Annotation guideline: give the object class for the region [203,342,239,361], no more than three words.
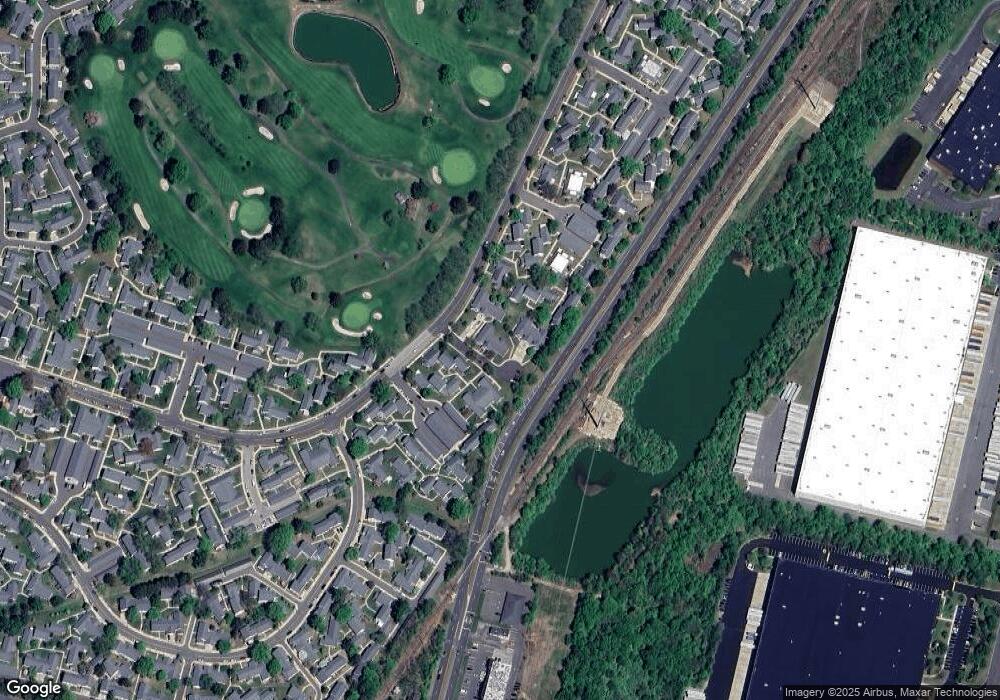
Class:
building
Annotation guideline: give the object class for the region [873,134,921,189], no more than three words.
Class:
pond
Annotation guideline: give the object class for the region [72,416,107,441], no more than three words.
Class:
house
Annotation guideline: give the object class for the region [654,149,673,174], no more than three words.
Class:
house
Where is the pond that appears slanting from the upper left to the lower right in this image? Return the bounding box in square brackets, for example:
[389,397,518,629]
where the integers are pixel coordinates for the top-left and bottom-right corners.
[294,12,398,110]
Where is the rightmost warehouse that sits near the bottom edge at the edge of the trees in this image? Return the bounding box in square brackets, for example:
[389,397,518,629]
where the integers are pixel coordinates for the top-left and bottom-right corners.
[747,556,940,700]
